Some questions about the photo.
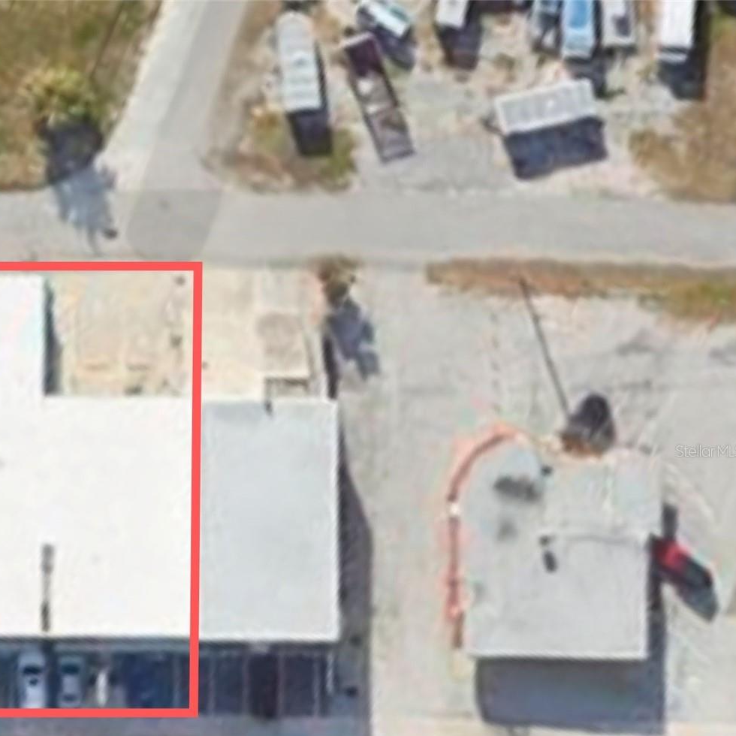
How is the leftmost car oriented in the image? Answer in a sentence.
What the image shows is the leftmost car lying from top to bottom.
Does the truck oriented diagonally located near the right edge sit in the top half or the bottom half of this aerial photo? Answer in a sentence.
It is in the bottom half that the truck oriented diagonally located near the right edge appears.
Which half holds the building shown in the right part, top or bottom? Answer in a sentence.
It is in the bottom half that the building shown in the right part appears.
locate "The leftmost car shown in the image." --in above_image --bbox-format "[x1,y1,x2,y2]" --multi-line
[16,650,47,711]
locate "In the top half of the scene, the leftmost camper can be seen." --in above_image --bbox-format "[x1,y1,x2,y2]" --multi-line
[277,11,320,112]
